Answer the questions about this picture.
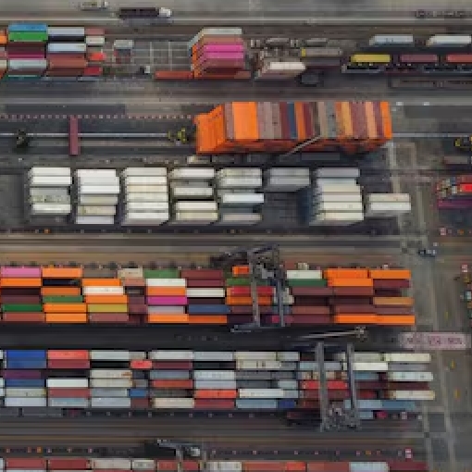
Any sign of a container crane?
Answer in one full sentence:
Yes, this view includes a container crane.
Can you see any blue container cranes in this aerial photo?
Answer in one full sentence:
No, no blue container crane is visible in the view.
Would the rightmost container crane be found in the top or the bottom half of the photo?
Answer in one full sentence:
The rightmost container crane sits in the bottom half of the picture.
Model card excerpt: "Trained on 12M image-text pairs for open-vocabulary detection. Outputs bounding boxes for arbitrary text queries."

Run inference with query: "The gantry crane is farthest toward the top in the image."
[217,246,301,330]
